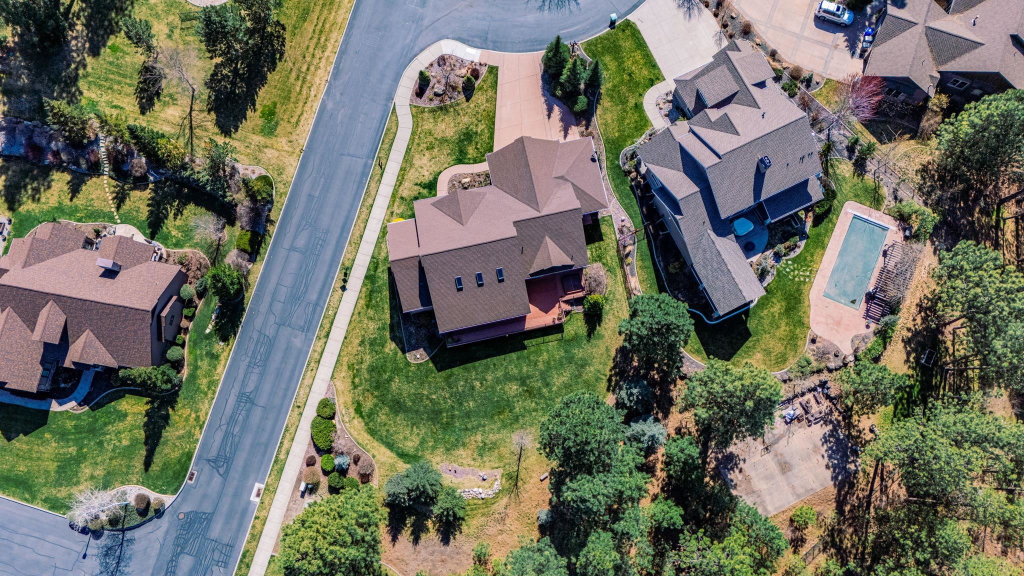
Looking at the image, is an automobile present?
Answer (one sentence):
Yes, an automobile can be made out from above.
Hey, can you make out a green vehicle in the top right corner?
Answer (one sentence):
No, no green vehicle is visible in the top right corner.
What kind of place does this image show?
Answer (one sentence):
The area seen from above is a residential area.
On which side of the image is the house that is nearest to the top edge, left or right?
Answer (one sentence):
You can find the house that is nearest to the top edge on the right side of the picture.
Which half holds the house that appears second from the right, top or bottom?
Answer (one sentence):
It is in the top half that the house that appears second from the right appears.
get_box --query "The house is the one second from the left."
[387,135,609,347]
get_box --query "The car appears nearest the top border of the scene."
[817,2,855,26]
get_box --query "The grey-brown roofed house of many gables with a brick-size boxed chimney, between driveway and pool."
[635,39,824,316]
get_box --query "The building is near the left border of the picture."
[0,223,189,393]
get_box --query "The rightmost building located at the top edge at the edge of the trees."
[860,0,1024,113]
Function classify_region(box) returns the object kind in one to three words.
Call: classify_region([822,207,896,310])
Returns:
swimming pool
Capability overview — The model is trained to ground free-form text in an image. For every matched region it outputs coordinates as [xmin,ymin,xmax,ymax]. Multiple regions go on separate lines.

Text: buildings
[387,135,609,347]
[860,0,1024,113]
[635,39,824,316]
[0,223,189,393]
